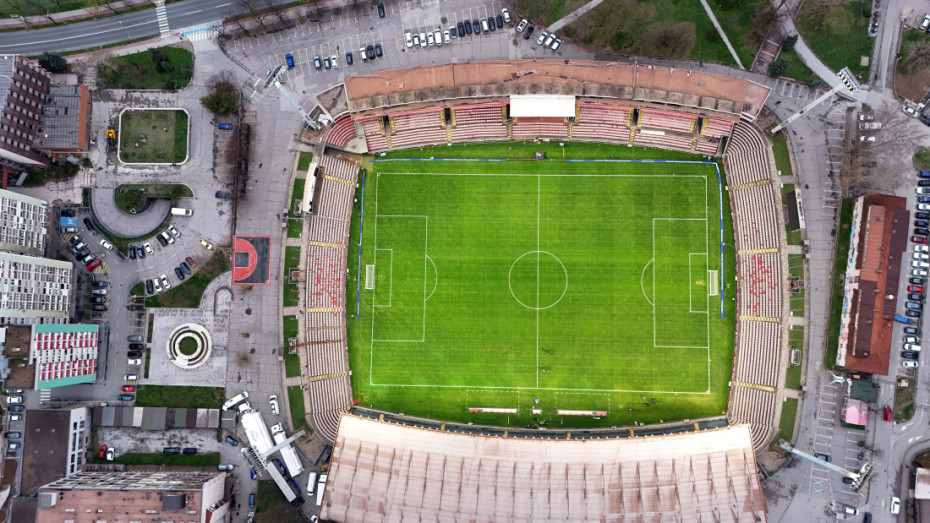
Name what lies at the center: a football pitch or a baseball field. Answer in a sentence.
Looking at the center, you will find a football pitch.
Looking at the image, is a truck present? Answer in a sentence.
Yes, I can see a truck in this picture.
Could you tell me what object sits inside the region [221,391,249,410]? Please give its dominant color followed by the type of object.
white vehicle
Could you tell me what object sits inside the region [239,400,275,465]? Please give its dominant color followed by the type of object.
white truck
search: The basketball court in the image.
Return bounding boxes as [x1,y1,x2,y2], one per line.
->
[233,236,272,285]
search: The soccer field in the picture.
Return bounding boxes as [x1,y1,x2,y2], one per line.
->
[349,140,736,427]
